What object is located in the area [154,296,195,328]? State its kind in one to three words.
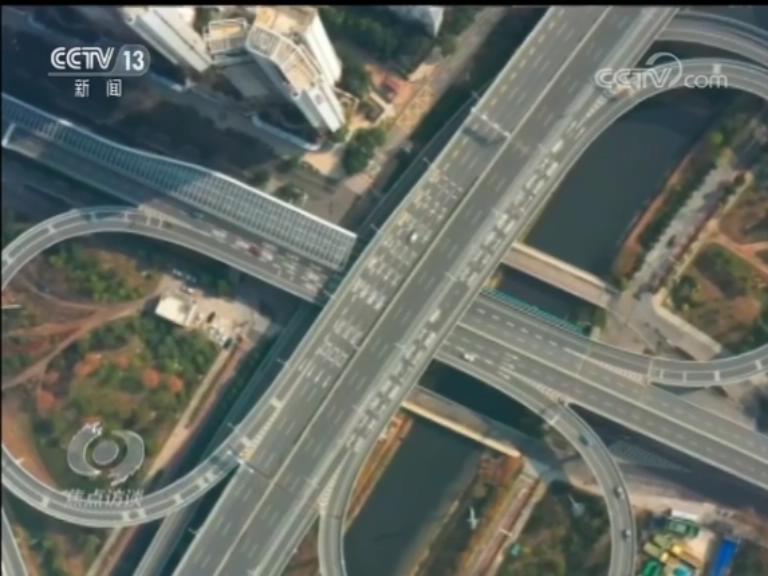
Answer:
shed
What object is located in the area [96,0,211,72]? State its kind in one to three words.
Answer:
building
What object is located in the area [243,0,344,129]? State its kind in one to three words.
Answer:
building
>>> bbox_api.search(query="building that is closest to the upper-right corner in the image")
[398,0,446,35]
